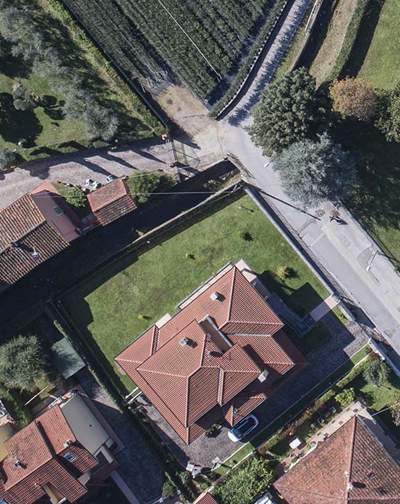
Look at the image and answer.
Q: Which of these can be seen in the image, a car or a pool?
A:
car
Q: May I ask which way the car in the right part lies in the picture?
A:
diagonally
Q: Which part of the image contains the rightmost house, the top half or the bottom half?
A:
bottom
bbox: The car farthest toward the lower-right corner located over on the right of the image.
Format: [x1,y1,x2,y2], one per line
[224,415,258,445]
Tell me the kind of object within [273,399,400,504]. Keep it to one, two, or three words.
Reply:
house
